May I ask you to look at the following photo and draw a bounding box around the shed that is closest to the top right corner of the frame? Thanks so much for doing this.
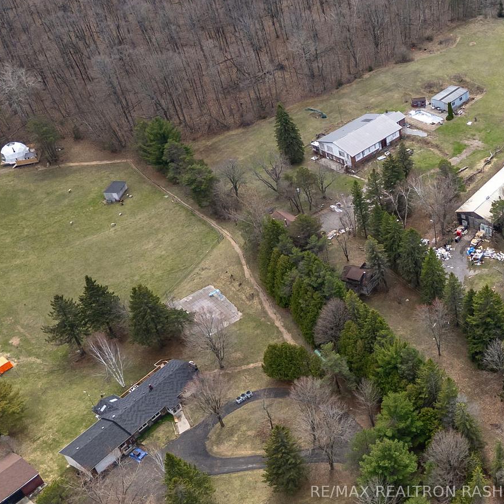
[436,85,469,109]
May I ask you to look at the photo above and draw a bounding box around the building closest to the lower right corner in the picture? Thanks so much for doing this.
[340,259,380,300]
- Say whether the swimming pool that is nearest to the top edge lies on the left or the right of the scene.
right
